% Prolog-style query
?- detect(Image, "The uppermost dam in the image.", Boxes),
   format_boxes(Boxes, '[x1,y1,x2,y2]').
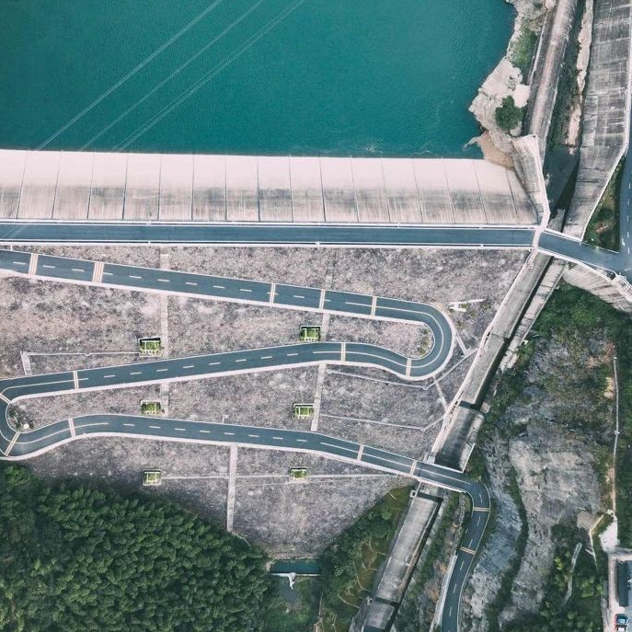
[0,149,539,557]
